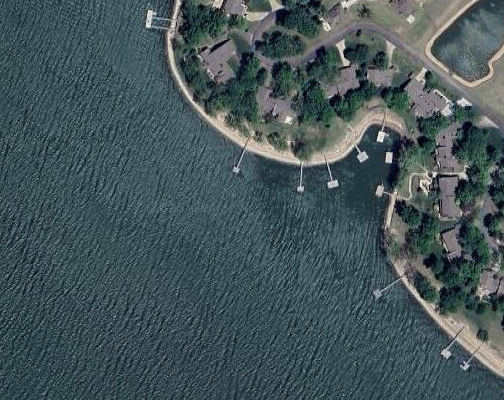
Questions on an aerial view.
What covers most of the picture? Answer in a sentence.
Most of the picture is covered by water.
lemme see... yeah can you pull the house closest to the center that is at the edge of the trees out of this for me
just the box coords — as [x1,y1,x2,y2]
[255,86,297,125]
